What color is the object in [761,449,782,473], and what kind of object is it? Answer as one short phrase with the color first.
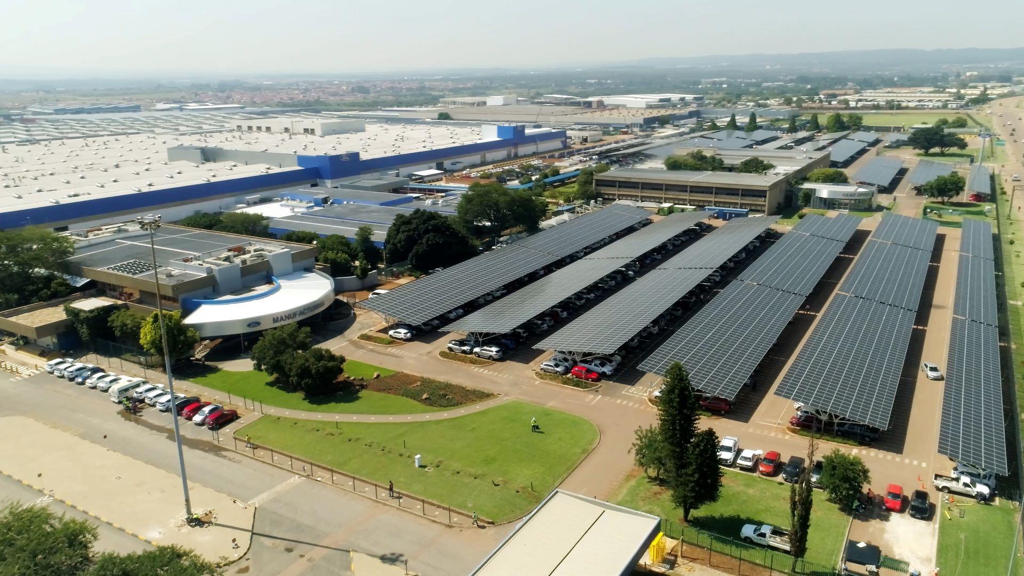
red car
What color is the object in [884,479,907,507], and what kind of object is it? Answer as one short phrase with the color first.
red car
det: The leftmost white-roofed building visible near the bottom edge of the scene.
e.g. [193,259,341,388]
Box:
[472,490,662,576]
